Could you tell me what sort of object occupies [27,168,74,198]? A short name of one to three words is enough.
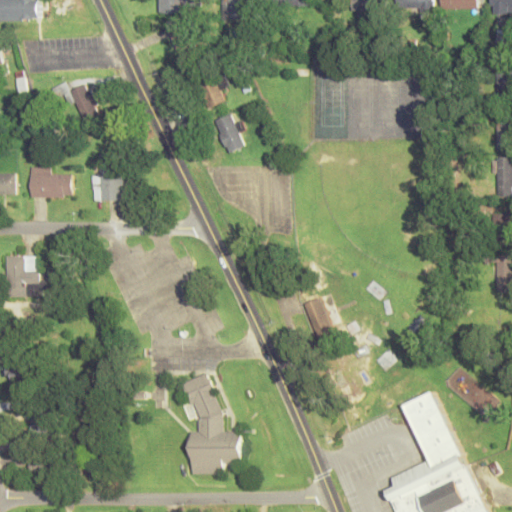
house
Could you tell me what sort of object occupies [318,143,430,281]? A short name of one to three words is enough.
baseball field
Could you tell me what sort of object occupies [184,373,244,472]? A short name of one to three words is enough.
building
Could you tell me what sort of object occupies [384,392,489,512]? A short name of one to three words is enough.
building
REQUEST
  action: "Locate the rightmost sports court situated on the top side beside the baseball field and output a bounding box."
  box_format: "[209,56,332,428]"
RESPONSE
[348,66,426,140]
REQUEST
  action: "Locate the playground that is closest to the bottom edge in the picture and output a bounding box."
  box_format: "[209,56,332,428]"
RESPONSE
[446,367,499,406]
